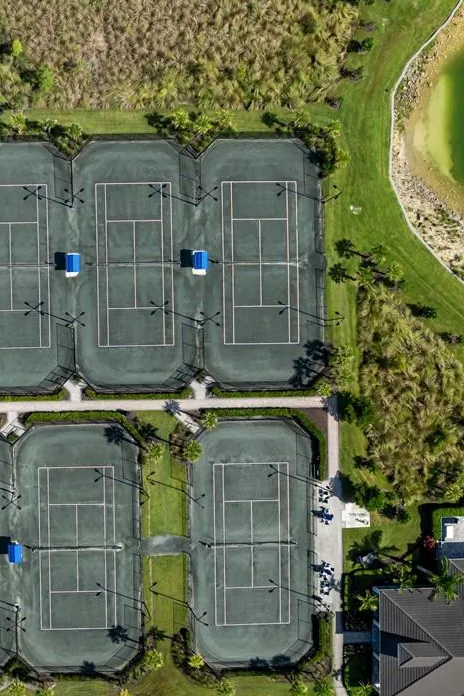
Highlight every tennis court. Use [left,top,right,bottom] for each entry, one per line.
[72,139,199,392]
[13,423,144,675]
[0,142,75,393]
[196,138,327,389]
[188,418,314,667]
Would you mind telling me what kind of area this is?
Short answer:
sports ground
